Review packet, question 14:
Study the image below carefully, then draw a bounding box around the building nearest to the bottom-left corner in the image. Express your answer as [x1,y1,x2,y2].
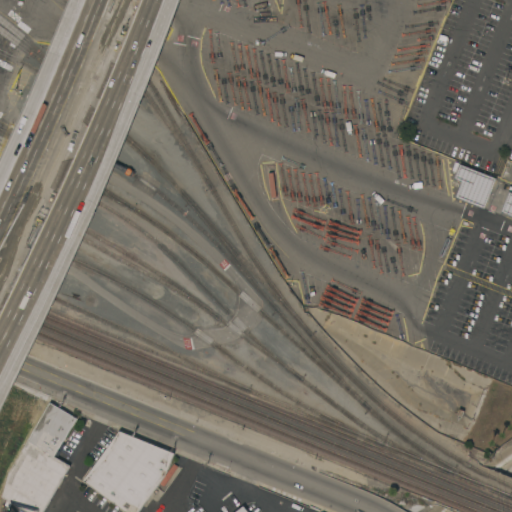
[3,440,70,512]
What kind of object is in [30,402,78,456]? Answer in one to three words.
building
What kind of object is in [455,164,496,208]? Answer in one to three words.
building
